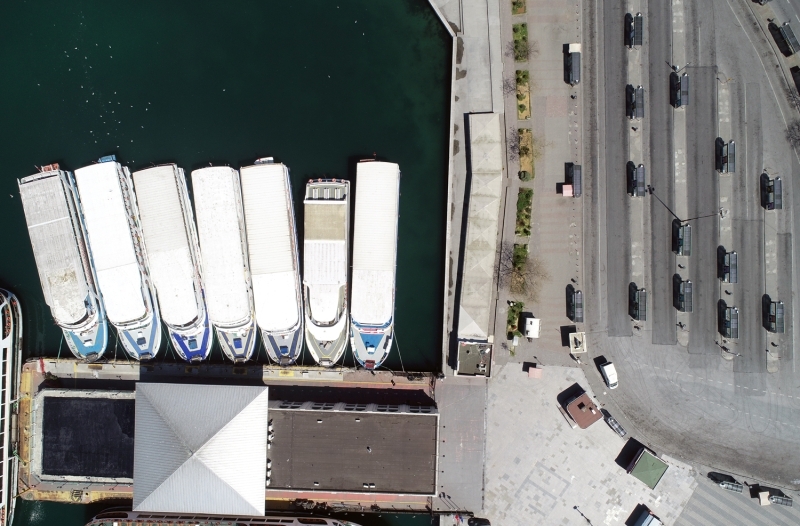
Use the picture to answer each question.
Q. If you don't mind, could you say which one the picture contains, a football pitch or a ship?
ship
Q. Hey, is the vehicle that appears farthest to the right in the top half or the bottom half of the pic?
bottom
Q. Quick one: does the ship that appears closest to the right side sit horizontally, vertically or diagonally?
vertically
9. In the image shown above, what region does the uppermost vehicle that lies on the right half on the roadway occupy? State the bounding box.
[597,360,617,388]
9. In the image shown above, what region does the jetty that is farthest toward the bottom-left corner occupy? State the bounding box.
[21,357,437,513]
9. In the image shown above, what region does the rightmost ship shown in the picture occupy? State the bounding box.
[348,152,401,374]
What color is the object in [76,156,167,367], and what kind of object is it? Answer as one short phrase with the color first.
white ship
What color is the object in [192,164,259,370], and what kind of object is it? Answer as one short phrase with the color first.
white ship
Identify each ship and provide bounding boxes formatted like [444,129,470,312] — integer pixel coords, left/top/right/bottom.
[192,164,259,370]
[87,507,369,526]
[76,156,167,367]
[302,170,351,374]
[0,287,27,526]
[348,152,401,374]
[133,163,216,370]
[241,156,305,370]
[17,167,113,371]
